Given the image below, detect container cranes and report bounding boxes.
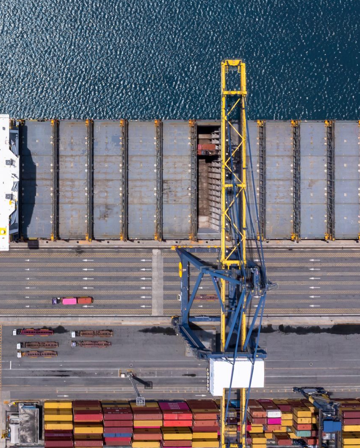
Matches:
[169,59,271,448]
[293,389,344,448]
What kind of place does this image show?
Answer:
port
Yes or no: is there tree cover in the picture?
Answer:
No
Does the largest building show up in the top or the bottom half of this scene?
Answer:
bottom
